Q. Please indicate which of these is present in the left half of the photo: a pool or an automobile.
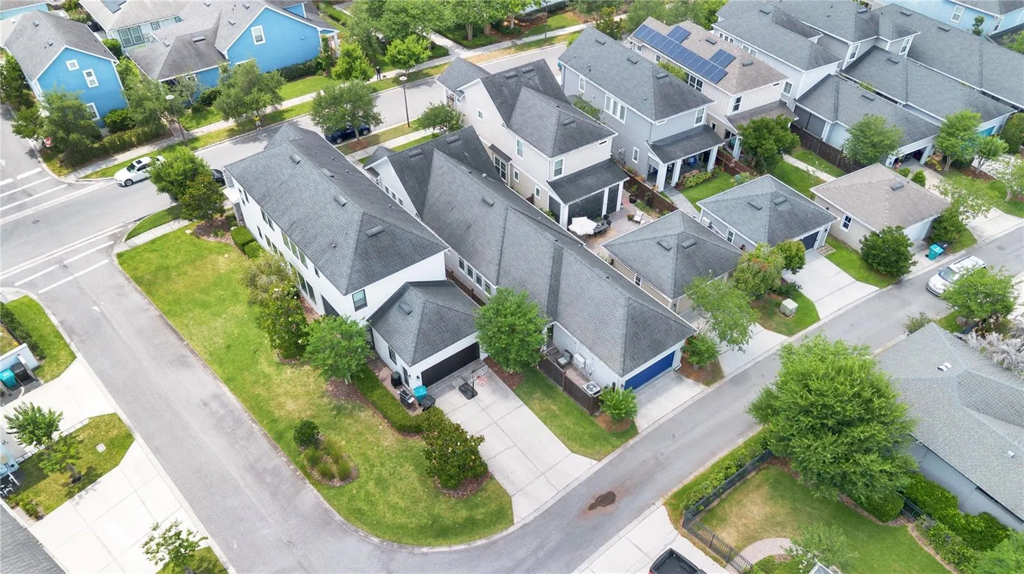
automobile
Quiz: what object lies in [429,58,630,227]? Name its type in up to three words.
house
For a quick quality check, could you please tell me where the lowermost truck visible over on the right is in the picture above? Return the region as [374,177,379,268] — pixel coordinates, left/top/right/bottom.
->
[640,547,691,574]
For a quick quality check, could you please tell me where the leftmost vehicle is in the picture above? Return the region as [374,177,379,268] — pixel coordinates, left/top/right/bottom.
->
[112,158,161,185]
